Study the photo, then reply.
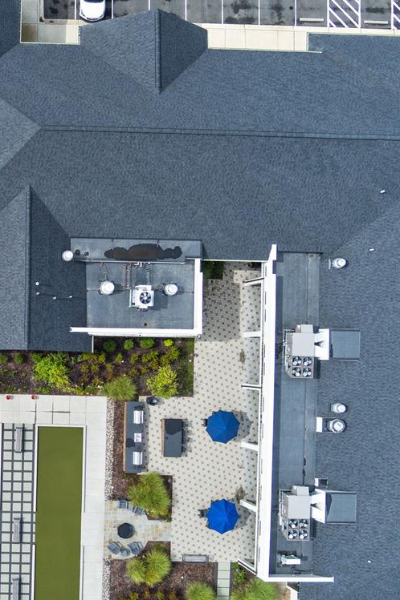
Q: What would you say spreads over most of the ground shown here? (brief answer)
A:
buildings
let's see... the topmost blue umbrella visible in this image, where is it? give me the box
[203,409,238,442]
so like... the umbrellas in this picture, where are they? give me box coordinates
[203,498,237,532]
[203,409,238,442]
